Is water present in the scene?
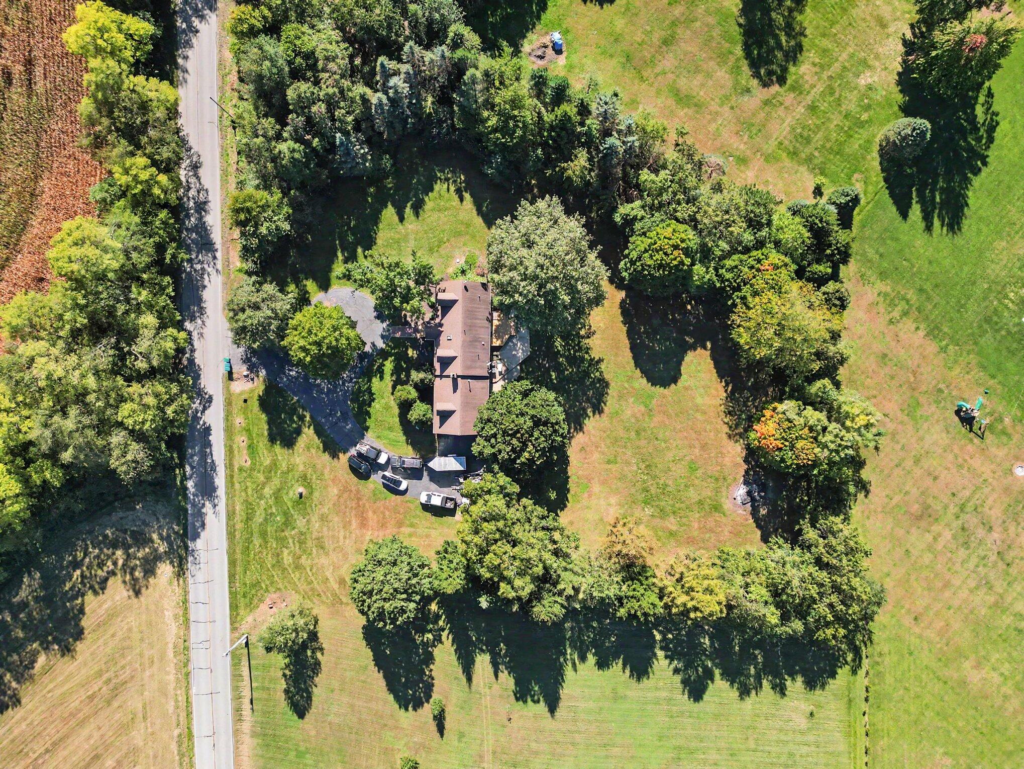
No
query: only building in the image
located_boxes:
[425,280,491,434]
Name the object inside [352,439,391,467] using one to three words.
truck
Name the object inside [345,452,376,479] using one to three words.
vehicle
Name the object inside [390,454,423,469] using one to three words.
car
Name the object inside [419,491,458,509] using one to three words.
vehicle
